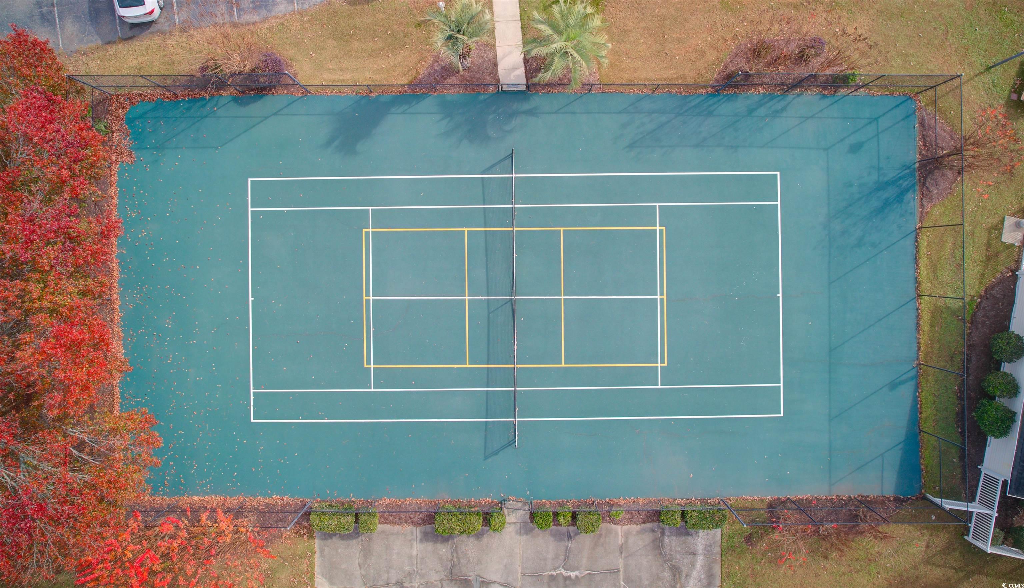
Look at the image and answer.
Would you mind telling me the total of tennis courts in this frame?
1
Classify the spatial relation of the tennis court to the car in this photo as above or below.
below it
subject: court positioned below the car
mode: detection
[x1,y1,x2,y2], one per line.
[106,95,922,503]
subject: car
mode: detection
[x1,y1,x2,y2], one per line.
[115,0,166,24]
